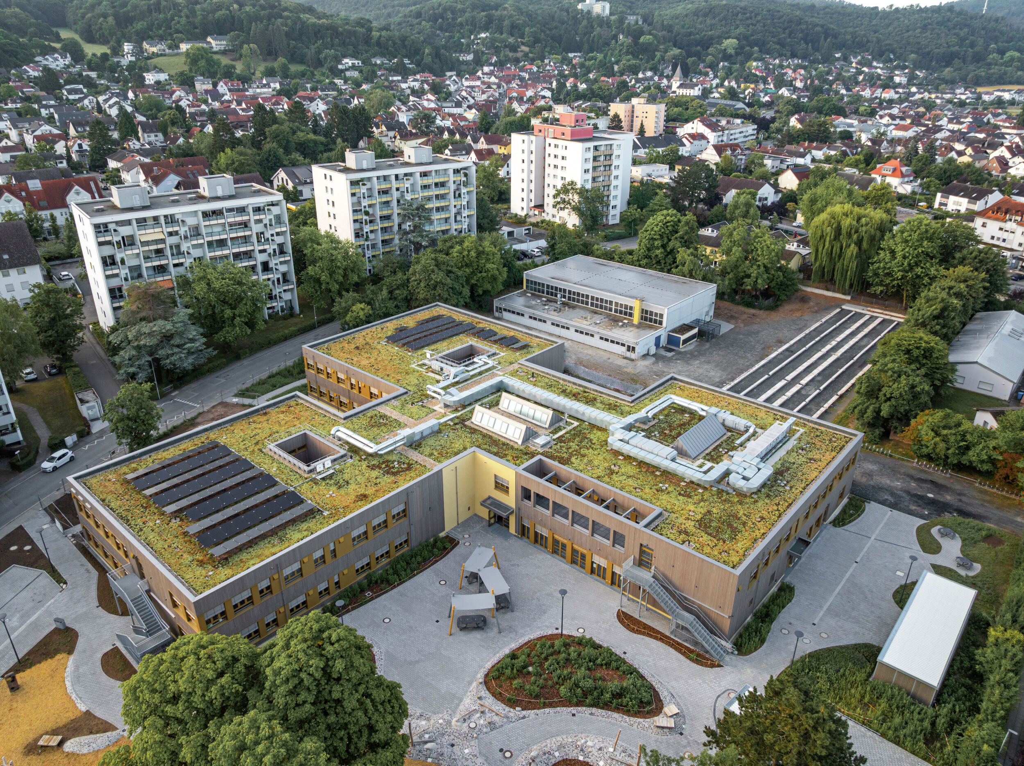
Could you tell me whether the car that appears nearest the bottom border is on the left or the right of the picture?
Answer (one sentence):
The car that appears nearest the bottom border appears in the left half of the scene.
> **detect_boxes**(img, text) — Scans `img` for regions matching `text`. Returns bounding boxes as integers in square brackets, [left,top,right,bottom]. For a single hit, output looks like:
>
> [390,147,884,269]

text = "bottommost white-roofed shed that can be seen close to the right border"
[874,571,977,707]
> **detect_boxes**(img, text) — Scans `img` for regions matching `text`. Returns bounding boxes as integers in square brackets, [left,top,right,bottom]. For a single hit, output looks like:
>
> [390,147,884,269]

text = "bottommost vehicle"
[37,449,77,471]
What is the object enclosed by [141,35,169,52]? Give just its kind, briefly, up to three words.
house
